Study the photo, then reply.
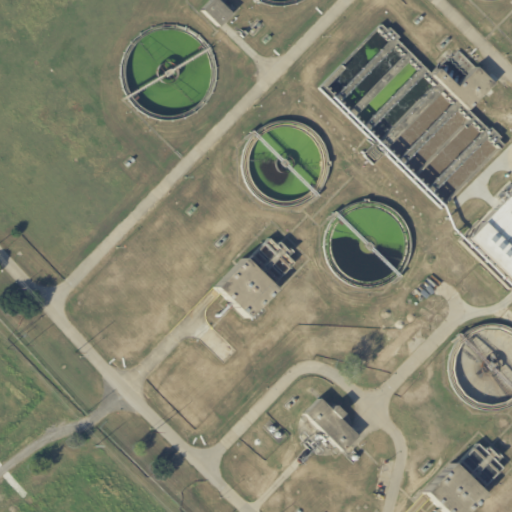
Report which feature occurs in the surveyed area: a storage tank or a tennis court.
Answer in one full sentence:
Of the two, only a storage tank appears.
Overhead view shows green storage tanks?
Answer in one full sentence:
Yes, the picture does show a green storage tank.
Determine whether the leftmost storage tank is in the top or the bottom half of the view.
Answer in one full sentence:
The leftmost storage tank is in the top half of the image.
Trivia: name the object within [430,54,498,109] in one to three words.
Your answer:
building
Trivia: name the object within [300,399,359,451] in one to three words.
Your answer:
building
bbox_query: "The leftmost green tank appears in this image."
[118,24,218,120]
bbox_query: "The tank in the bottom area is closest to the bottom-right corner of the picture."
[457,444,505,490]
